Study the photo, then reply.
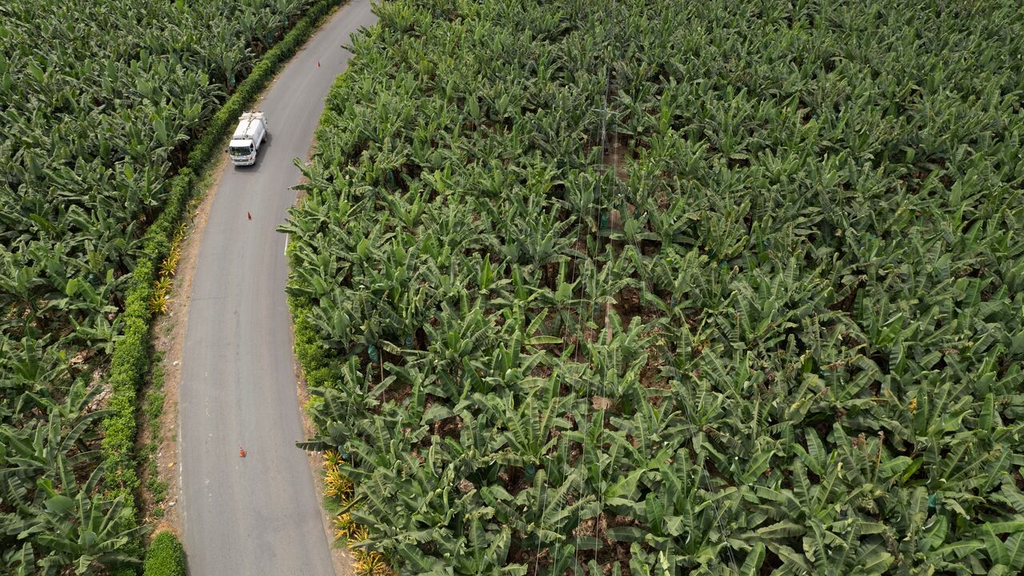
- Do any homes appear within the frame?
No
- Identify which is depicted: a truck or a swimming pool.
truck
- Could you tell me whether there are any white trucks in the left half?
Yes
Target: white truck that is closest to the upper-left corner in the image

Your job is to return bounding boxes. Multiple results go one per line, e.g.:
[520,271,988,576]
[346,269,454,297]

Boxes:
[226,109,271,163]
